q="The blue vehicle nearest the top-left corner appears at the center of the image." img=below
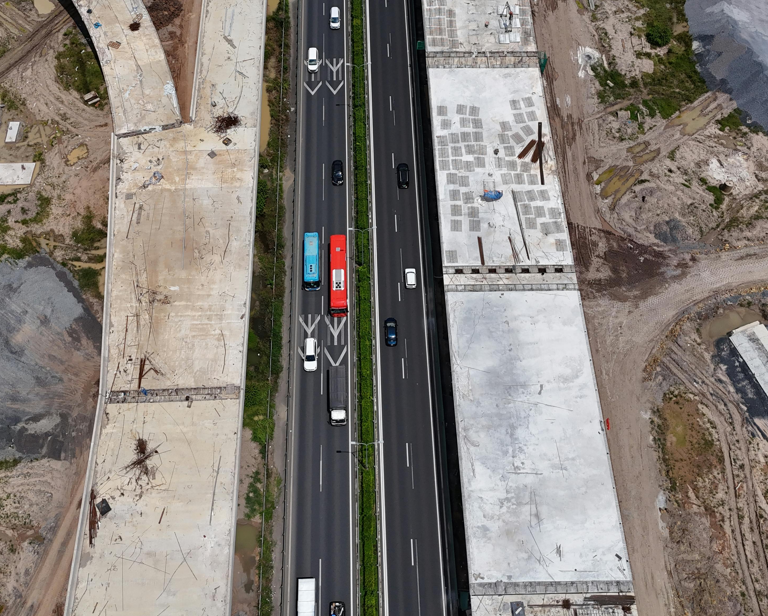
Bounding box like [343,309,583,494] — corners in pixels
[301,233,321,289]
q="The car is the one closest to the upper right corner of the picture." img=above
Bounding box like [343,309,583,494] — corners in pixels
[396,164,409,189]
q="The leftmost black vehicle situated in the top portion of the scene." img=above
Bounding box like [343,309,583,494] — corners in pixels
[330,161,344,185]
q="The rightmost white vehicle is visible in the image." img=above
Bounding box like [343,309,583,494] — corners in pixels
[403,268,417,290]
